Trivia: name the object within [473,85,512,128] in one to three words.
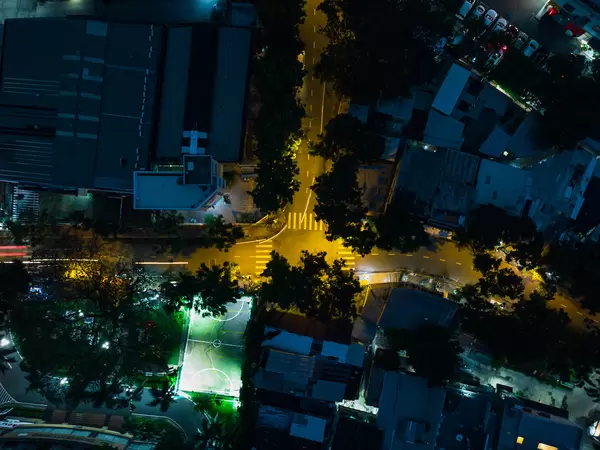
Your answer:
house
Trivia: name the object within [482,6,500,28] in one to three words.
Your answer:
car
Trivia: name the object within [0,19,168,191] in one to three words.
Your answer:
building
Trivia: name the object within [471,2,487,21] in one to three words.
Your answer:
car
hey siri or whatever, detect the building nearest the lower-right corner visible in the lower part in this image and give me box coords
[502,394,583,450]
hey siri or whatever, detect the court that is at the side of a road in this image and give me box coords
[173,294,256,401]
